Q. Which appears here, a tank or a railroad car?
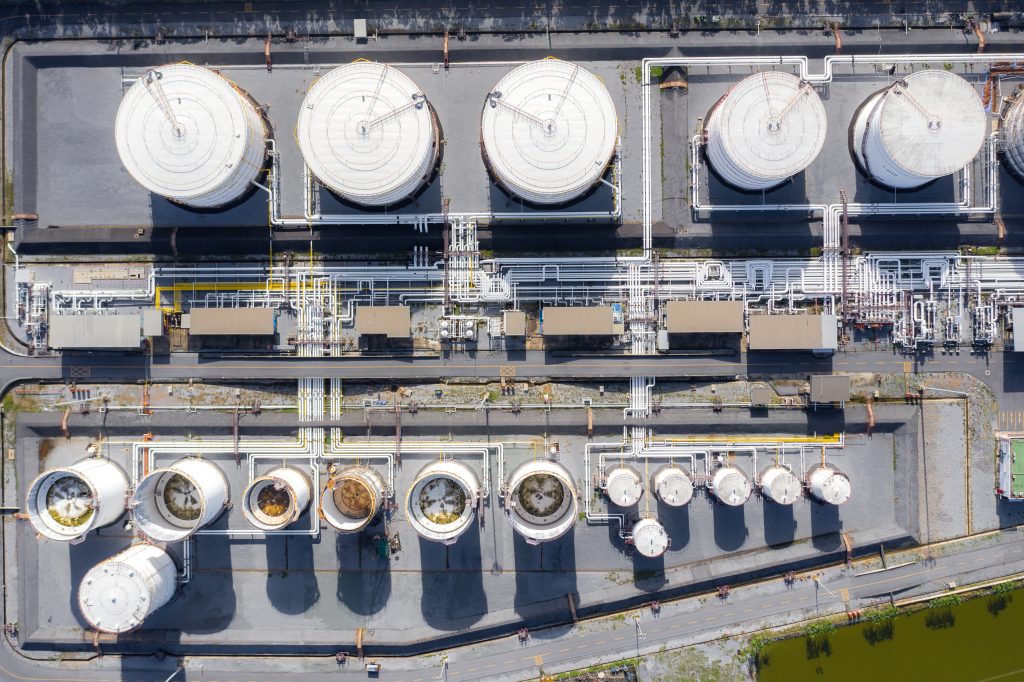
tank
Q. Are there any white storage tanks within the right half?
Yes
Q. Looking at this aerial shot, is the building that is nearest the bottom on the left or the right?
right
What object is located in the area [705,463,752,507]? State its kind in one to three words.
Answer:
storage tank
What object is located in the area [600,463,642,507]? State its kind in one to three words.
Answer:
storage tank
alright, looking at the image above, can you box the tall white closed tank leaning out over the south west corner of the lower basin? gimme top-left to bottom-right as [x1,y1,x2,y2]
[76,543,179,635]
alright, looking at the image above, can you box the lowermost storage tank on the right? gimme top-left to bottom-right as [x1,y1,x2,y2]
[628,515,669,558]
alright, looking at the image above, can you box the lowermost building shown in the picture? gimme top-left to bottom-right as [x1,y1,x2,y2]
[992,436,1024,500]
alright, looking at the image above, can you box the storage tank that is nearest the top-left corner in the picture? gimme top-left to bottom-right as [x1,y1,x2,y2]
[112,59,275,213]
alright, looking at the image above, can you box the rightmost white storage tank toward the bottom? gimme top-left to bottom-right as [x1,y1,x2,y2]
[806,465,852,504]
